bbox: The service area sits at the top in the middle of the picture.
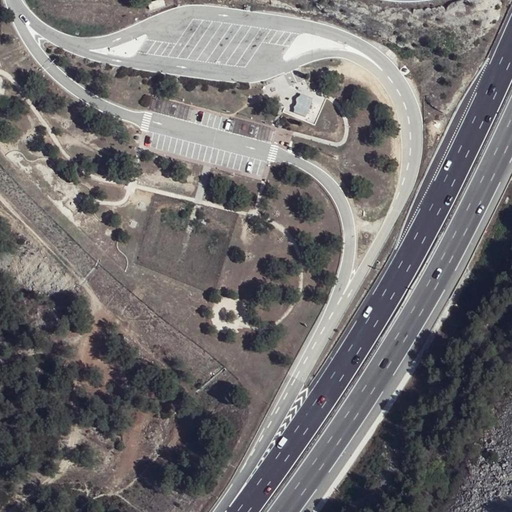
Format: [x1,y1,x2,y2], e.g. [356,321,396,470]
[28,19,382,176]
